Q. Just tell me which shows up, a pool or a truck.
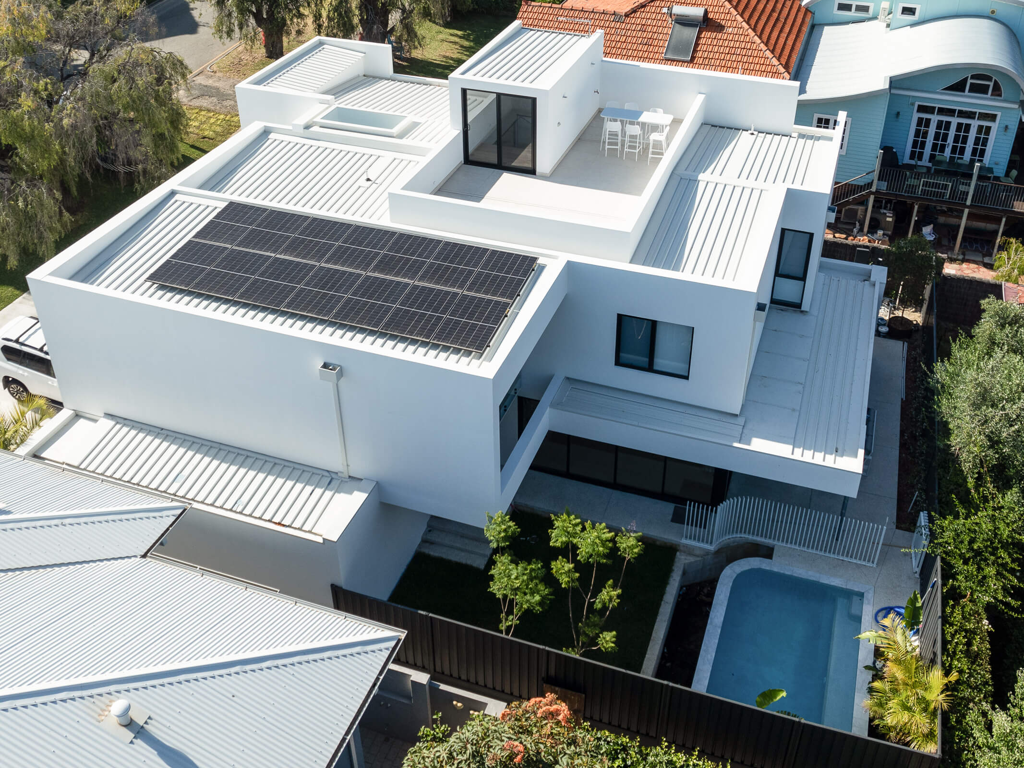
pool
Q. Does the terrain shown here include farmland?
No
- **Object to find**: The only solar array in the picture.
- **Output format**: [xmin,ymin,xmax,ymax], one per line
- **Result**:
[144,204,537,349]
